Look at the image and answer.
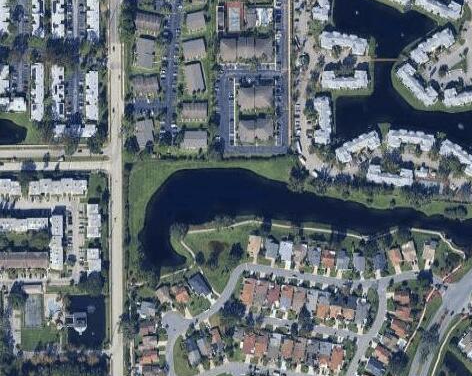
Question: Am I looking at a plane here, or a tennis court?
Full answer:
This aerial view contains a tennis court.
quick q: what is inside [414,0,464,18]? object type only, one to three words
building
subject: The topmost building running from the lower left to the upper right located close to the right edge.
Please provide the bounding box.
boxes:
[409,27,456,64]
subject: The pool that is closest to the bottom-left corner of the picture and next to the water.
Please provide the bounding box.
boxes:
[45,294,64,330]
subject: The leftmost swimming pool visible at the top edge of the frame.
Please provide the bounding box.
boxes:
[257,8,273,26]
